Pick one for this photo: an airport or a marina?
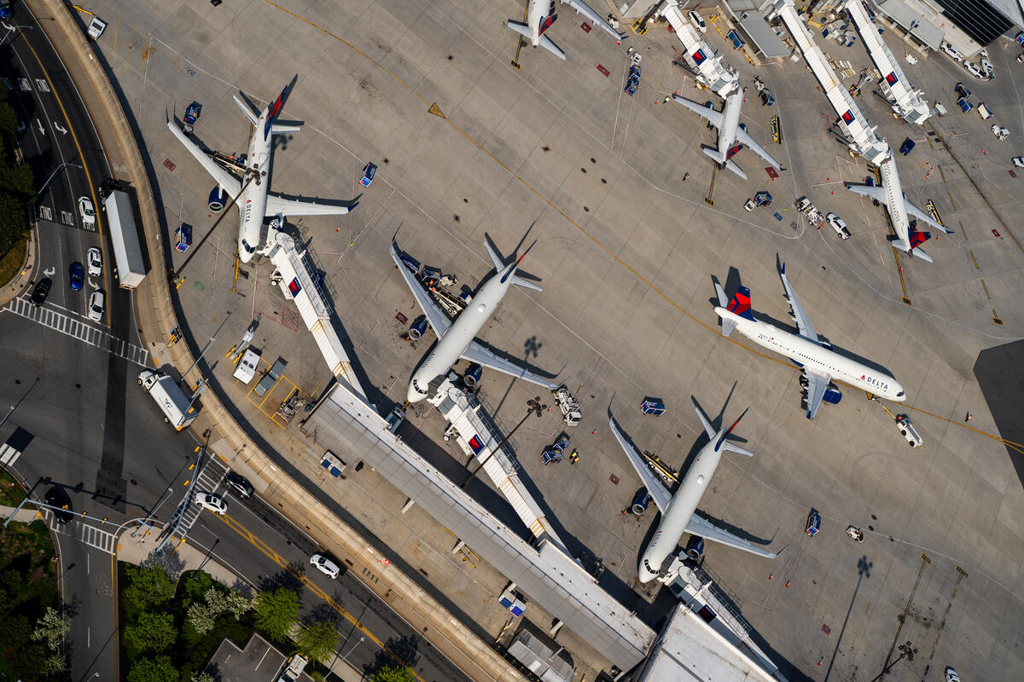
airport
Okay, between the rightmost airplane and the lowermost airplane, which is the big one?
the lowermost airplane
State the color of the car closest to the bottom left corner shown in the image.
black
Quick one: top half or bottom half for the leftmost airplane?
top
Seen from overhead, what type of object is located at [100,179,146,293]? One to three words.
truck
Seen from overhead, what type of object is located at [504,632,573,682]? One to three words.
shed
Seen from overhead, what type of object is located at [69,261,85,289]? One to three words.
car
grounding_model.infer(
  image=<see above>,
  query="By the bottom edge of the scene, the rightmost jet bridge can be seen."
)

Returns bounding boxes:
[657,556,795,682]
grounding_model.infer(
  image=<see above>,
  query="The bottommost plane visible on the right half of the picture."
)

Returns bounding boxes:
[607,406,789,585]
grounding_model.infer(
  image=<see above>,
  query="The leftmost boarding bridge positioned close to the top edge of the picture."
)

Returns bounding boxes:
[658,0,742,102]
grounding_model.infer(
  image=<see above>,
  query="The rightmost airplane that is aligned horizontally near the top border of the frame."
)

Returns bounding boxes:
[509,0,631,58]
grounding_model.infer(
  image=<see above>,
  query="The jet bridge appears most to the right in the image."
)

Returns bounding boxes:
[833,0,927,130]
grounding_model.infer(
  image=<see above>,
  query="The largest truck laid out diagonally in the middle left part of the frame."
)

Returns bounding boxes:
[138,375,205,436]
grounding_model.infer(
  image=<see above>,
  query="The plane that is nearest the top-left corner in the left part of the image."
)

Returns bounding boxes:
[161,85,363,264]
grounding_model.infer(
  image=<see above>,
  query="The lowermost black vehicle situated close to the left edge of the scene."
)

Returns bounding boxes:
[46,487,70,521]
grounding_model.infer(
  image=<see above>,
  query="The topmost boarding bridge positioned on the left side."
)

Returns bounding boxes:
[257,228,377,408]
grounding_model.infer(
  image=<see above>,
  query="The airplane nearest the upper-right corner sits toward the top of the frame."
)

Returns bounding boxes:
[846,150,959,262]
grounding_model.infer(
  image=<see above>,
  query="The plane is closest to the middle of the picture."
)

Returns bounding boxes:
[388,231,570,404]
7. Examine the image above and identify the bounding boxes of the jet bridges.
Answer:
[428,377,589,566]
[833,0,927,130]
[779,0,886,165]
[257,228,377,408]
[658,0,742,102]
[657,556,795,682]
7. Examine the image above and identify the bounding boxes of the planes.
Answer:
[607,406,789,585]
[509,0,631,58]
[161,85,363,264]
[713,262,908,420]
[846,150,959,262]
[388,231,570,404]
[673,82,790,178]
